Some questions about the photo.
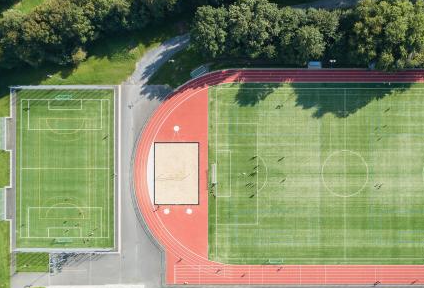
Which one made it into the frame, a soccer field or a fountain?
soccer field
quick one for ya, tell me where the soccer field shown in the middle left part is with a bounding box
[6,86,118,253]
